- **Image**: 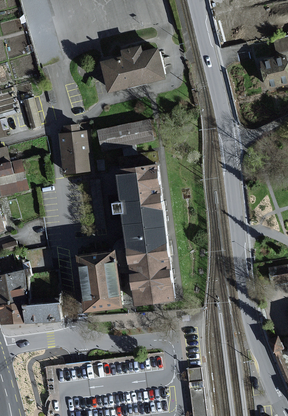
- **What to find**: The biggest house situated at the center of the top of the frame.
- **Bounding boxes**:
[101,46,168,92]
